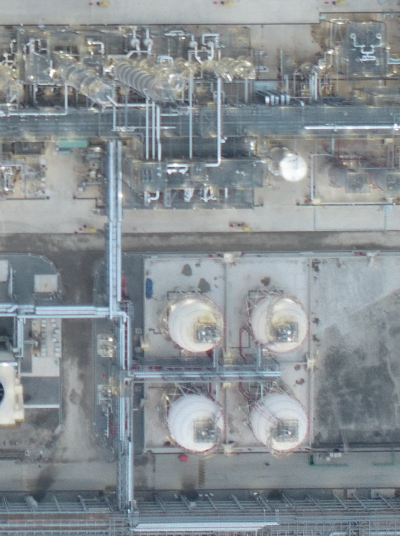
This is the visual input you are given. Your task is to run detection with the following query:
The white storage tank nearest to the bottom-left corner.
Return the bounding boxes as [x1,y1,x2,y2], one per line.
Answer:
[153,380,226,458]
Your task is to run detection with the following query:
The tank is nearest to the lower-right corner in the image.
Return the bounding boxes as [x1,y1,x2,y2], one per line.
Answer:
[239,380,313,454]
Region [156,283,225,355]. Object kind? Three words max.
storage tank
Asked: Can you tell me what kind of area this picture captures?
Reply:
industrial area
